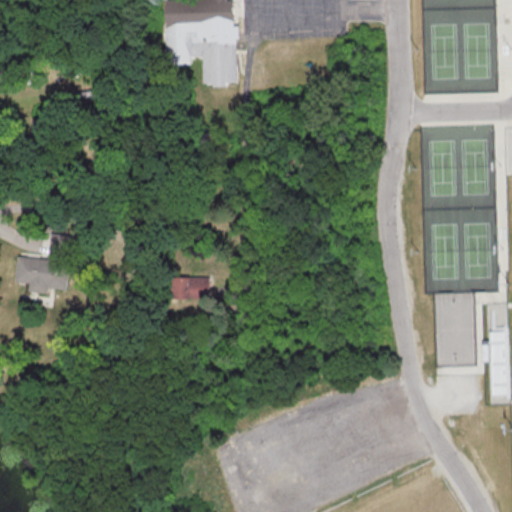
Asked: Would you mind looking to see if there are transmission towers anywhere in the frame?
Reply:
No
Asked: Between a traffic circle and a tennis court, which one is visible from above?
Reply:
tennis court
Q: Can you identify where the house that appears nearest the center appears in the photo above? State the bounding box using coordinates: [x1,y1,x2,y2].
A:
[172,275,216,300]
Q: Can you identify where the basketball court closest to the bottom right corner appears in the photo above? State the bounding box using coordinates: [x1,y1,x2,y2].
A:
[435,292,476,366]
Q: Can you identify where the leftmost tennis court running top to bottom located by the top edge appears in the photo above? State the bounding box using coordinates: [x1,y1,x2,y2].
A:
[422,8,462,93]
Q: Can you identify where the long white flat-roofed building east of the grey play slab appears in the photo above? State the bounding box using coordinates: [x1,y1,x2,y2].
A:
[482,310,510,404]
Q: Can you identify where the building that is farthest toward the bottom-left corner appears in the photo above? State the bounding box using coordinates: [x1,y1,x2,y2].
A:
[16,256,69,295]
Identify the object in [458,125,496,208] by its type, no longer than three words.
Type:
tennis court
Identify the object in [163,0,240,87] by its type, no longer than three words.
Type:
building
